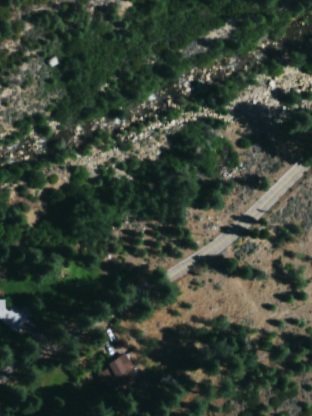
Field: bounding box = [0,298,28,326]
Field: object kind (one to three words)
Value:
house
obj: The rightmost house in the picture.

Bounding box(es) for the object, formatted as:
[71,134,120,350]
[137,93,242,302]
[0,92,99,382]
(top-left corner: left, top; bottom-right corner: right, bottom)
[108,352,136,380]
